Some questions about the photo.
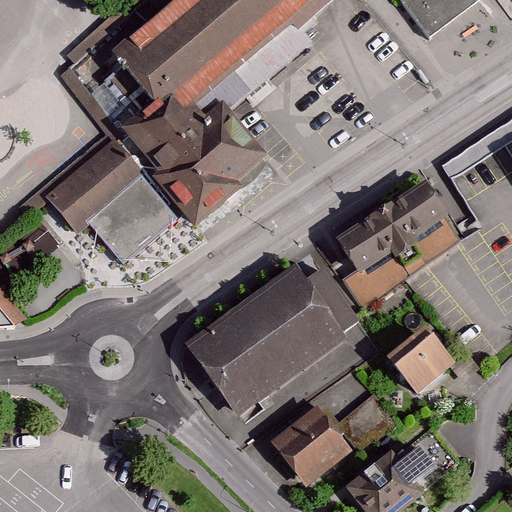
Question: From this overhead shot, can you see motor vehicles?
Yes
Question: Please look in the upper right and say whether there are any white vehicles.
Yes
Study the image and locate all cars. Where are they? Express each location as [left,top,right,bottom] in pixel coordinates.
[353,110,376,128]
[460,502,479,512]
[376,40,399,60]
[307,65,330,84]
[347,11,373,32]
[318,73,341,92]
[240,109,262,128]
[330,92,356,113]
[0,428,11,452]
[466,170,480,186]
[248,118,272,138]
[116,460,133,484]
[328,130,350,148]
[366,32,390,51]
[144,486,162,512]
[474,160,498,184]
[309,111,332,130]
[136,478,152,502]
[340,100,366,121]
[294,90,320,112]
[106,450,124,474]
[390,60,414,80]
[124,472,140,495]
[155,495,171,512]
[60,464,72,490]
[490,234,512,253]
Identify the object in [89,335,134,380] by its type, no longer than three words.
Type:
roundabout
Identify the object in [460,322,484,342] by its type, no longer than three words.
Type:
vehicle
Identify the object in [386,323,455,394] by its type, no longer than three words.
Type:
house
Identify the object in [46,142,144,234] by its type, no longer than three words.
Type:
house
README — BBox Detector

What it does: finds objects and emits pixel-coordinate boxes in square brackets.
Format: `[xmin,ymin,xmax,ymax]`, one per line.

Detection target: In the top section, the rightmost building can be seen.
[400,0,480,41]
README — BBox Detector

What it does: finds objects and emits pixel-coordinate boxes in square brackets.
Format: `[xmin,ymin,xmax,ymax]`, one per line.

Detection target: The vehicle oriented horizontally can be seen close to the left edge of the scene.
[15,435,42,448]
